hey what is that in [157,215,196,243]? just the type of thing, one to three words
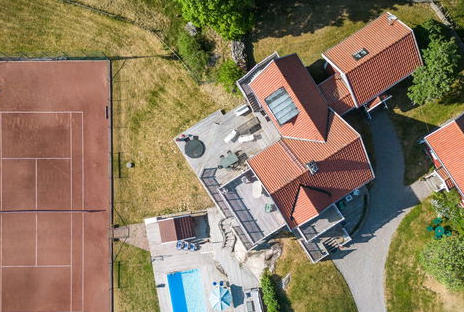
shed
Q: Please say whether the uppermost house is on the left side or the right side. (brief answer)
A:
right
